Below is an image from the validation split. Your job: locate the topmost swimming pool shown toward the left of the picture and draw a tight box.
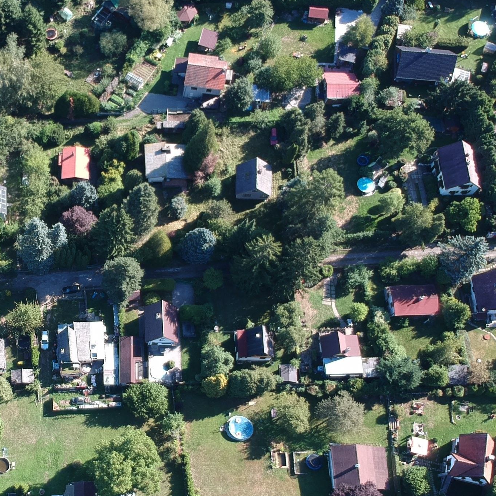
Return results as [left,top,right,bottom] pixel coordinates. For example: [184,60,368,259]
[150,360,169,379]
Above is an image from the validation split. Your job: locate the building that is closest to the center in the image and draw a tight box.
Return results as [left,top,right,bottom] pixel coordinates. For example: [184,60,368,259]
[234,158,272,206]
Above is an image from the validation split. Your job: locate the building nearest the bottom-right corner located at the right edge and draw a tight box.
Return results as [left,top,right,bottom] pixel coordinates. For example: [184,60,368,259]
[440,432,496,486]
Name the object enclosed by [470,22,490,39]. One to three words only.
swimming pool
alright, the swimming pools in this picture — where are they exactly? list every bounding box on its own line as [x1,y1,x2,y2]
[150,360,169,379]
[0,454,14,478]
[470,22,490,39]
[354,177,375,194]
[227,416,253,442]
